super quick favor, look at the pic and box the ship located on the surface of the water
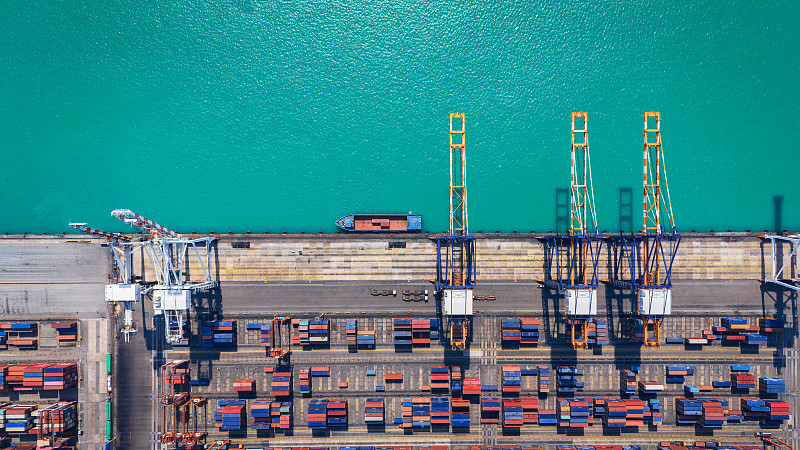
[325,213,434,235]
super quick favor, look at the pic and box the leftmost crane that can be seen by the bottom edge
[41,399,81,450]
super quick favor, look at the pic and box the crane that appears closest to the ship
[429,112,478,350]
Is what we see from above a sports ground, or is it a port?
port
